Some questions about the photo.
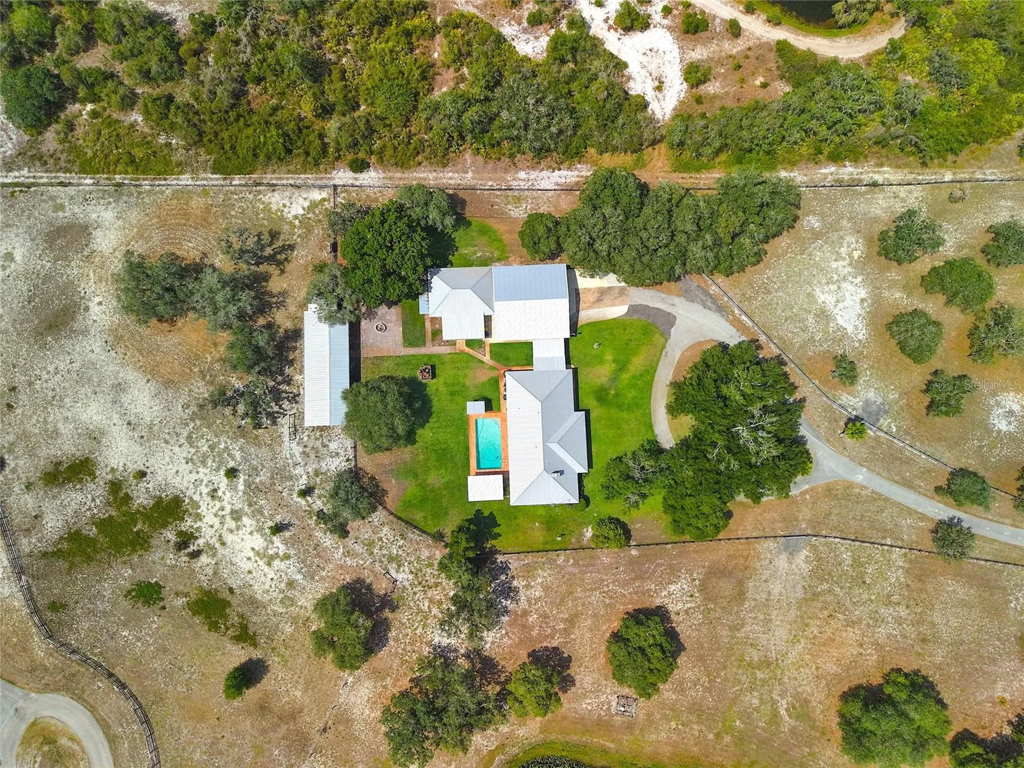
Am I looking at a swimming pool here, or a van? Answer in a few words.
swimming pool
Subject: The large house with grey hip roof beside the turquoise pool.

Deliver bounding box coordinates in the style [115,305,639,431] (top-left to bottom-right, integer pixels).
[505,369,588,506]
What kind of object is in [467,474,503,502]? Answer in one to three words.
building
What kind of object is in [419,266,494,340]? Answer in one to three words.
house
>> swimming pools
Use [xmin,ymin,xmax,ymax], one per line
[474,416,506,471]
